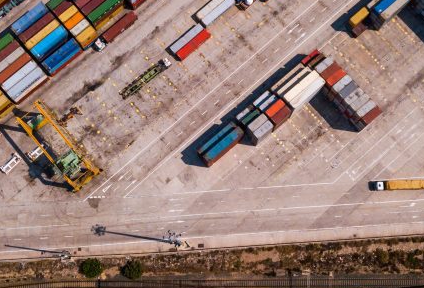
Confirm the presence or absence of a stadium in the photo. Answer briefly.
No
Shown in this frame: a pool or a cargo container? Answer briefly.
cargo container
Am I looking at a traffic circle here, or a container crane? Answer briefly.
container crane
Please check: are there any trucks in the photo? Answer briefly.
Yes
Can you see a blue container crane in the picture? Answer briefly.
No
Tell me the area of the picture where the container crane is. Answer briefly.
left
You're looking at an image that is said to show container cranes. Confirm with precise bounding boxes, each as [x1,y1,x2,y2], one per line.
[15,100,107,195]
